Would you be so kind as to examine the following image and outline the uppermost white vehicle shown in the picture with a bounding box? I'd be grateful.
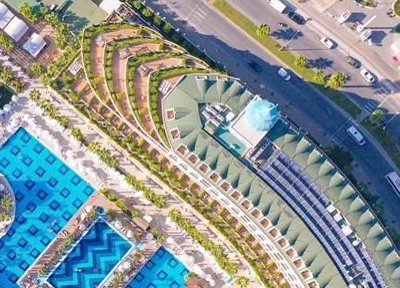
[267,0,290,13]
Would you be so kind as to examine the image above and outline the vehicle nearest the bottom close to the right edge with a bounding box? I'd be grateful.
[386,171,400,197]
